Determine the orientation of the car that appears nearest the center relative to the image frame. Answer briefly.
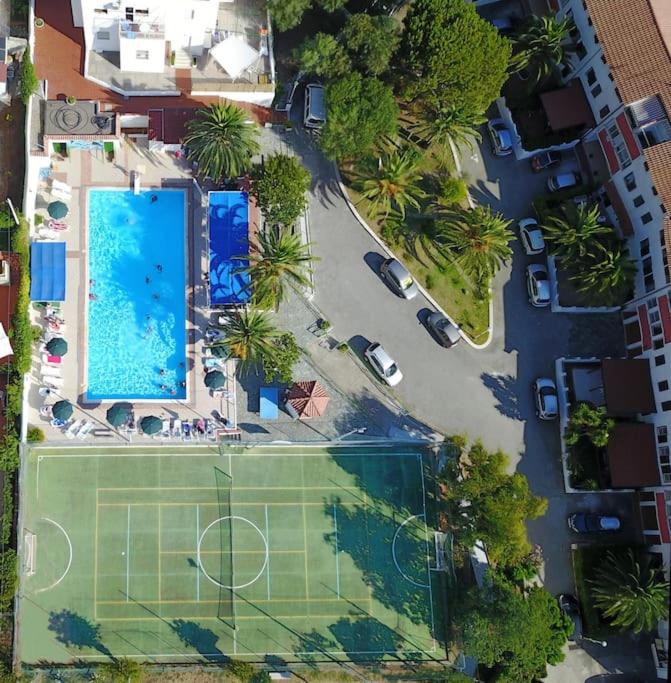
diagonally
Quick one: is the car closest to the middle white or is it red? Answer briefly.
white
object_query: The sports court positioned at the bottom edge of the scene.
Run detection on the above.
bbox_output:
[21,443,447,662]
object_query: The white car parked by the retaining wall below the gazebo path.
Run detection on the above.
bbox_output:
[363,341,404,388]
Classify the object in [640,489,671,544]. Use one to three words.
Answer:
house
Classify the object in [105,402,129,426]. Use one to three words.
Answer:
umbrella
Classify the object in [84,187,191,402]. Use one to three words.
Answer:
swimming pool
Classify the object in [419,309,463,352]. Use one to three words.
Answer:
car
